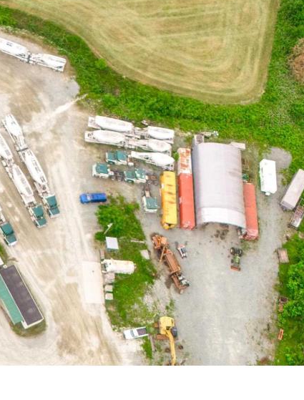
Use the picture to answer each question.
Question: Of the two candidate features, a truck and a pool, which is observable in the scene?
truck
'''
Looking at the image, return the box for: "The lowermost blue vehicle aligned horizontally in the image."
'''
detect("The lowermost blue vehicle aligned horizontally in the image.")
[78,193,107,206]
